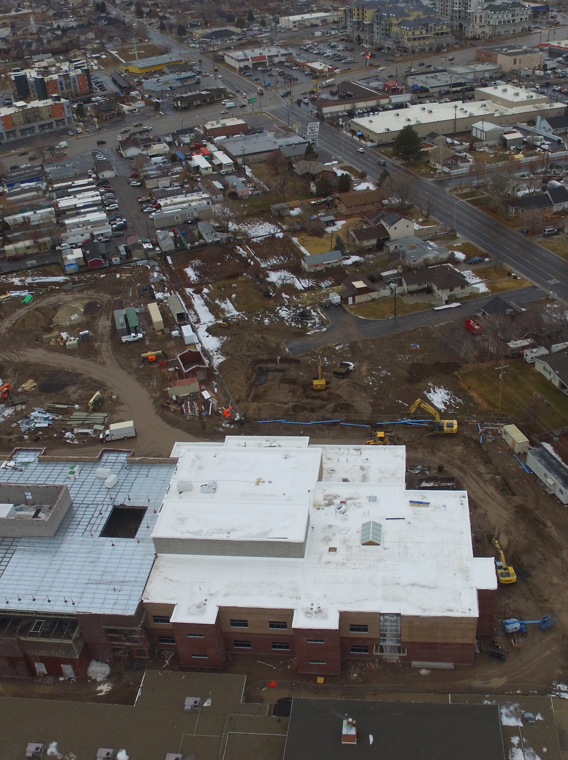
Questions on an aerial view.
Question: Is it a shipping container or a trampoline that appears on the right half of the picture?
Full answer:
Looking on the right half of the picture, you will find a shipping container.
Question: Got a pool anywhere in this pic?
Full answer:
No, I can't see a single pool in this photo.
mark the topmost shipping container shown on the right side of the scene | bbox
[502,424,529,453]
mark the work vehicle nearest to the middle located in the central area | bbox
[313,354,327,391]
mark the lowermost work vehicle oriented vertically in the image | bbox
[495,543,521,595]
